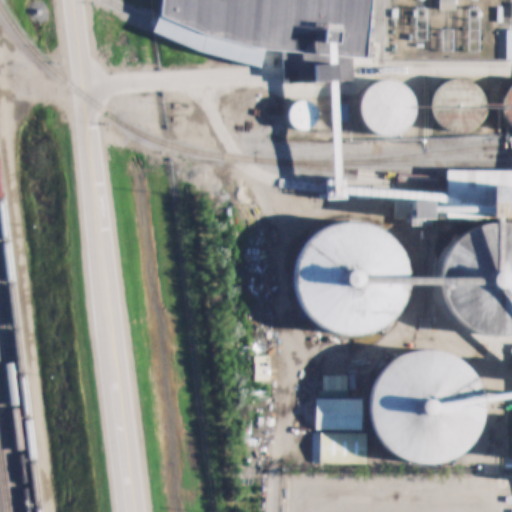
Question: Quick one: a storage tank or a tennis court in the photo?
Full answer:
There is a storage tank in the scene.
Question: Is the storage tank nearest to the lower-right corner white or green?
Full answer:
The storage tank nearest to the lower-right corner looks white in the image.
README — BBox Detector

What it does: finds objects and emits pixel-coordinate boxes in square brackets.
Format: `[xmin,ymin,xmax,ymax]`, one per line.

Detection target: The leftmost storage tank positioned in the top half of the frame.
[284,98,320,132]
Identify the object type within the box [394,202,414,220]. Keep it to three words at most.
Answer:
shed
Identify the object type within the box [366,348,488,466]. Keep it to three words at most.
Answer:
storage tank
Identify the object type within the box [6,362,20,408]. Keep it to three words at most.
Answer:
rail car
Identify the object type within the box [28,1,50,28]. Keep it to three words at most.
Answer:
building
